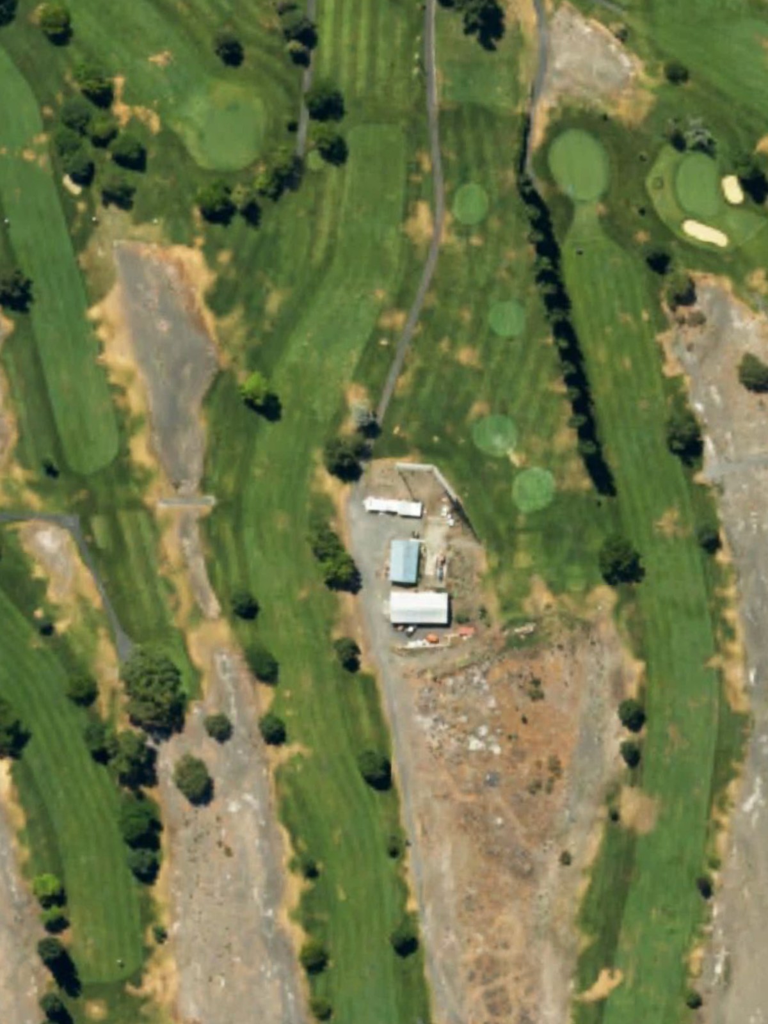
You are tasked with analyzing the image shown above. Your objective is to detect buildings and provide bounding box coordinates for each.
[390,539,420,583]
[390,591,448,624]
[365,495,422,516]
